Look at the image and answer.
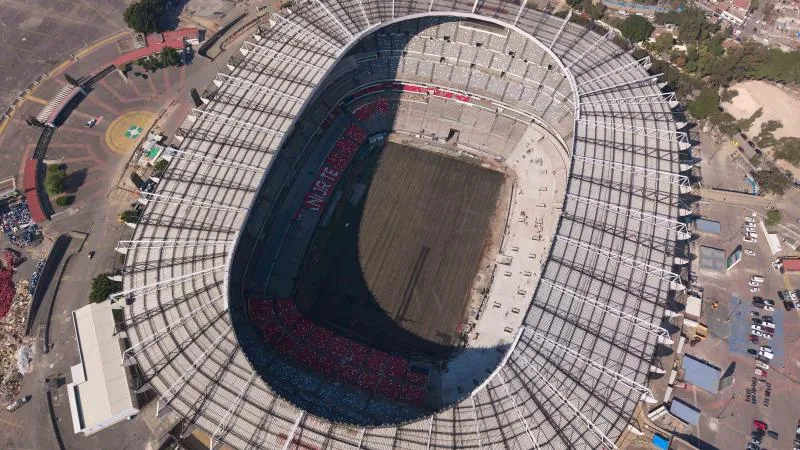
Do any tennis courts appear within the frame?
No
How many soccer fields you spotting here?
1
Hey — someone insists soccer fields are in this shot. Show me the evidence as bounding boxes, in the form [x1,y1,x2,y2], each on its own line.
[304,139,504,356]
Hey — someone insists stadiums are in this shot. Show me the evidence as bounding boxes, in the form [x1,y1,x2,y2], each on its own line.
[110,0,695,450]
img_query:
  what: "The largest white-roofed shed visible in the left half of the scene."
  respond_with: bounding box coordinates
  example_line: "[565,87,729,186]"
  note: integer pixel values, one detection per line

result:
[67,301,141,436]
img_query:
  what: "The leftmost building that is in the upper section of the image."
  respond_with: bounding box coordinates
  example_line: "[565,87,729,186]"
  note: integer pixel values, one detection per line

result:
[38,86,86,131]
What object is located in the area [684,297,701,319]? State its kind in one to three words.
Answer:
building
